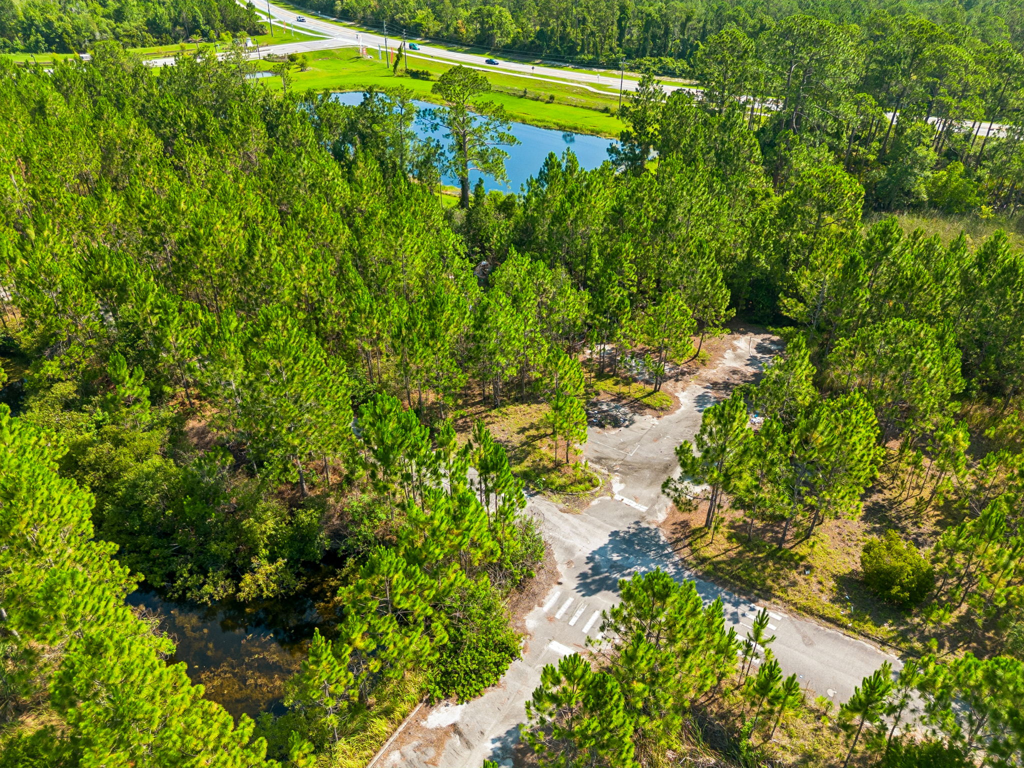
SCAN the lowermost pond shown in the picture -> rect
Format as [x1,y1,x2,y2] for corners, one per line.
[316,92,649,191]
